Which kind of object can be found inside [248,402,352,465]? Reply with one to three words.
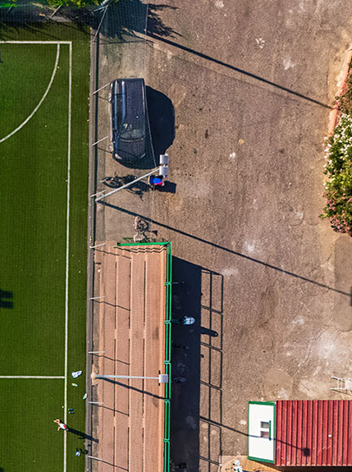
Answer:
shed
